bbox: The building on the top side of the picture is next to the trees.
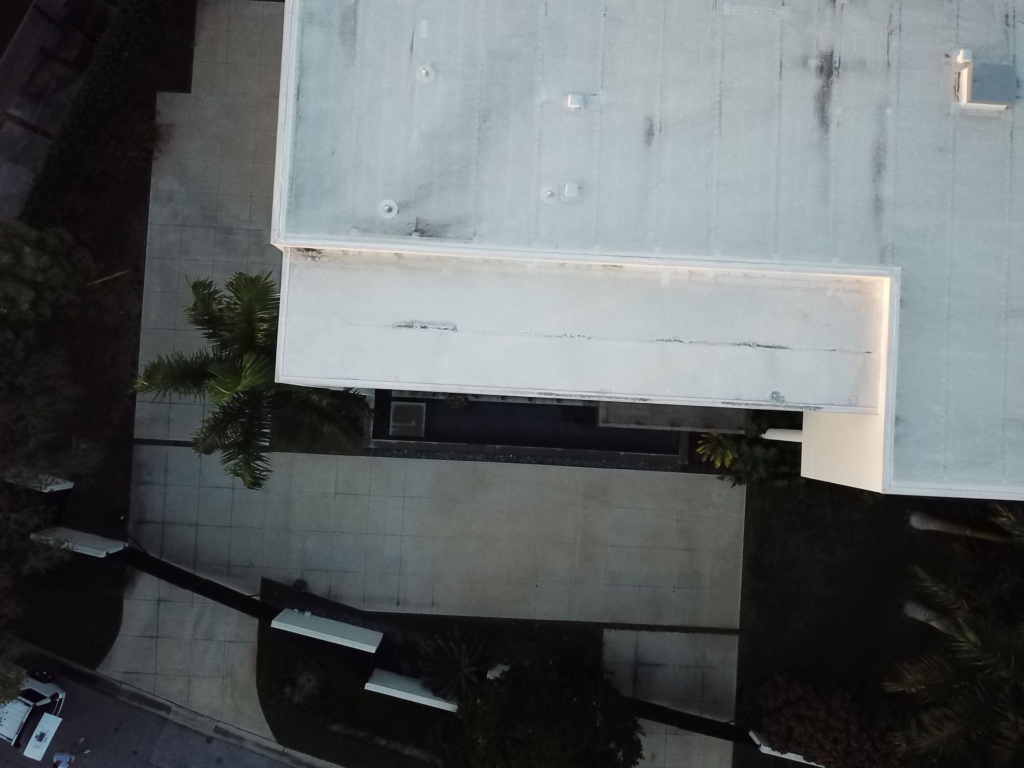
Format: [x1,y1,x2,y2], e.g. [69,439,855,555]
[271,0,1024,500]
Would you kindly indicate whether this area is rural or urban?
urban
